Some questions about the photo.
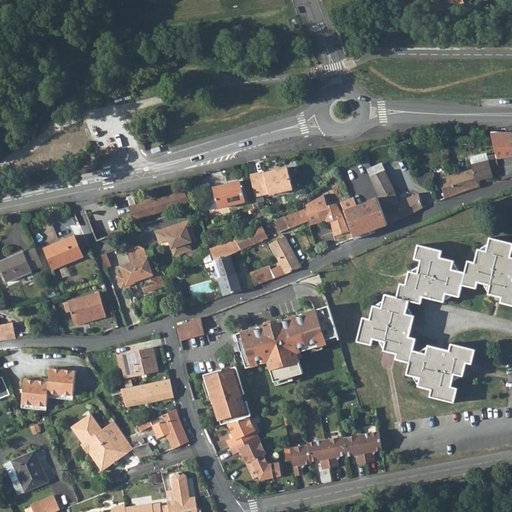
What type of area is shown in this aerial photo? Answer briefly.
residential area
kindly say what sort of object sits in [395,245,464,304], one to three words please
building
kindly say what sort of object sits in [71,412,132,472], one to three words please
house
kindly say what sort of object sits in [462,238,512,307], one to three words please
building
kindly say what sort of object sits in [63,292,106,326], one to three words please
house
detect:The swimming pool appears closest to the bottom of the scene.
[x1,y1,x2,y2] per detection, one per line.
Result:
[190,280,213,295]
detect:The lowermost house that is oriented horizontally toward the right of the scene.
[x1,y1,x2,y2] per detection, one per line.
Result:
[284,432,380,478]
